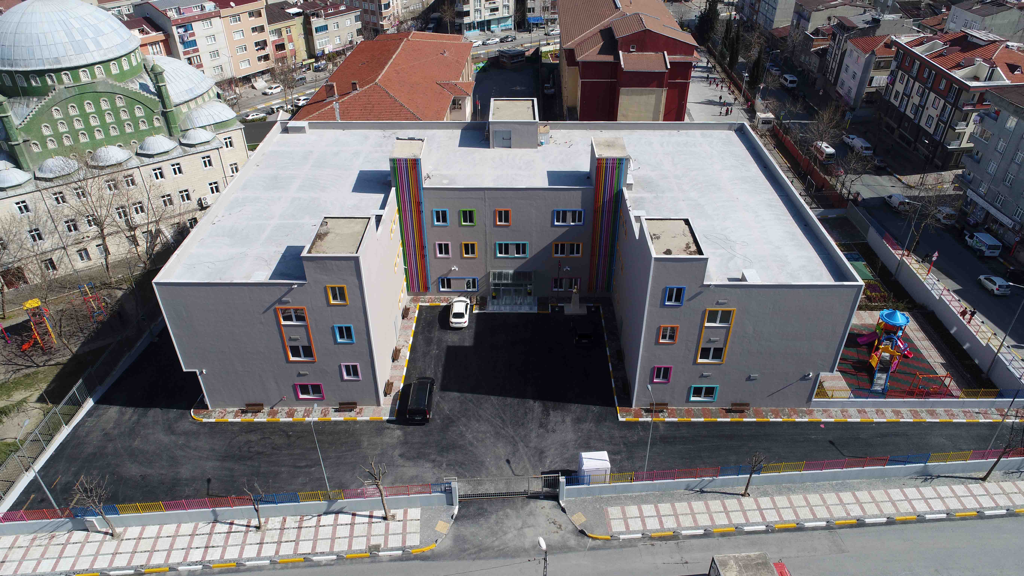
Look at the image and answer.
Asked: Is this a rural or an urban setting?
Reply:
urban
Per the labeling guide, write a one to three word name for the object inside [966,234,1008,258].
vehicle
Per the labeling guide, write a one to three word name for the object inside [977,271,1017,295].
car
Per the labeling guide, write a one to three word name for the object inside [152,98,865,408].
building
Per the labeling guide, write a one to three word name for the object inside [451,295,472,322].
car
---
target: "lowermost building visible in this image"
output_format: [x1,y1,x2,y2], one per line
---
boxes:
[577,447,611,481]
